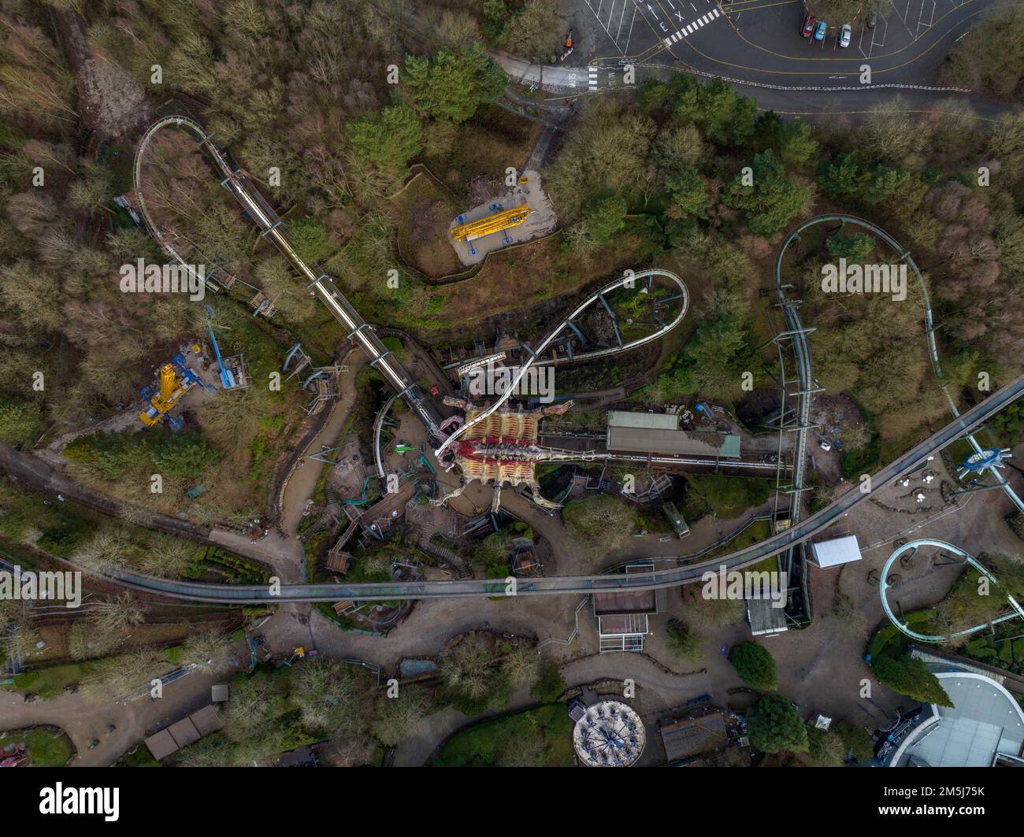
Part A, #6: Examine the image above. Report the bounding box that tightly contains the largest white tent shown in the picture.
[809,532,862,568]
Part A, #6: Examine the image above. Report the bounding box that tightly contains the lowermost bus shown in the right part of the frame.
[662,501,692,540]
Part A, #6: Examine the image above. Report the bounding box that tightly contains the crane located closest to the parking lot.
[451,202,531,257]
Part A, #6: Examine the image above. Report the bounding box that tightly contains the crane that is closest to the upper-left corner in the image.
[136,354,212,428]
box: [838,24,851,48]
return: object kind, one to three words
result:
vehicle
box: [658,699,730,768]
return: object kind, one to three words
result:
building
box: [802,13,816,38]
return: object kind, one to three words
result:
car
